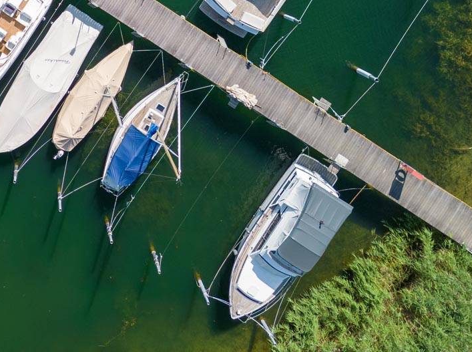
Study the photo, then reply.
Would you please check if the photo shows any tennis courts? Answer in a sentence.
No, there isn't any tennis court down there.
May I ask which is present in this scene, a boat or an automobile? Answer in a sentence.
Looking from above, you can make out a boat.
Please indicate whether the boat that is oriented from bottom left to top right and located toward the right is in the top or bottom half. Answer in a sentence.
You can find the boat that is oriented from bottom left to top right and located toward the right in the bottom half.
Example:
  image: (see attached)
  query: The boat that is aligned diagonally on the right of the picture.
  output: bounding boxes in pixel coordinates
[232,155,352,329]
